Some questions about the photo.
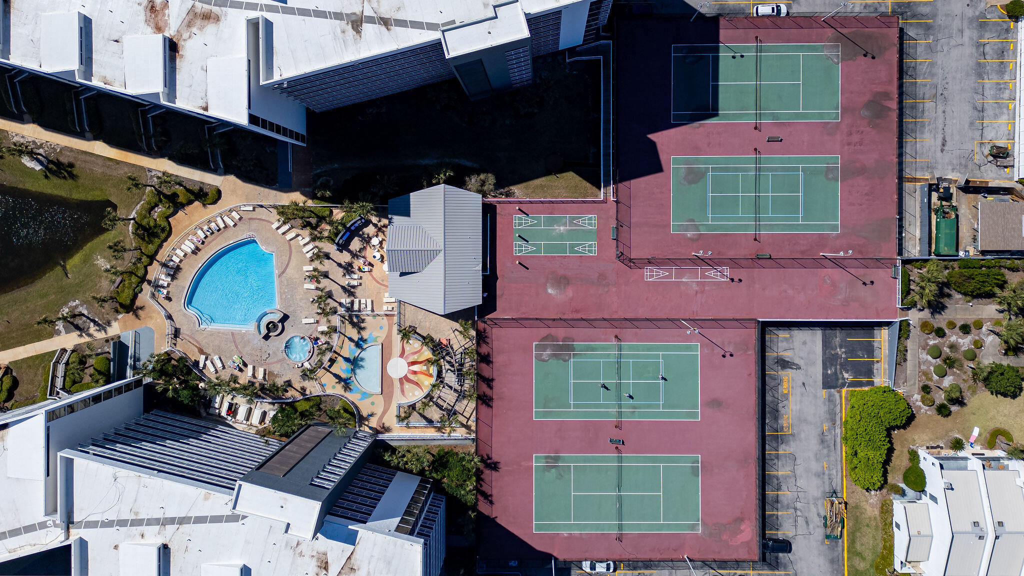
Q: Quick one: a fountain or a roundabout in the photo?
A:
fountain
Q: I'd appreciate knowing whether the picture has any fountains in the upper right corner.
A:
No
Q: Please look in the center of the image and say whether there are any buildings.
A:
Yes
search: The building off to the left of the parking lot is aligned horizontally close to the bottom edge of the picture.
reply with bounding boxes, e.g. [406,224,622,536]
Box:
[0,376,445,576]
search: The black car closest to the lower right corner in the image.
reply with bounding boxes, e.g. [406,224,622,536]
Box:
[758,538,792,555]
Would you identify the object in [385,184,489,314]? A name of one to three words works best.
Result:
building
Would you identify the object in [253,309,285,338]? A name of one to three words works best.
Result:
fountain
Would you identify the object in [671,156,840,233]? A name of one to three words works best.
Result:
tennis court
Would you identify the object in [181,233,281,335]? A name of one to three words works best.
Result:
swimming pool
